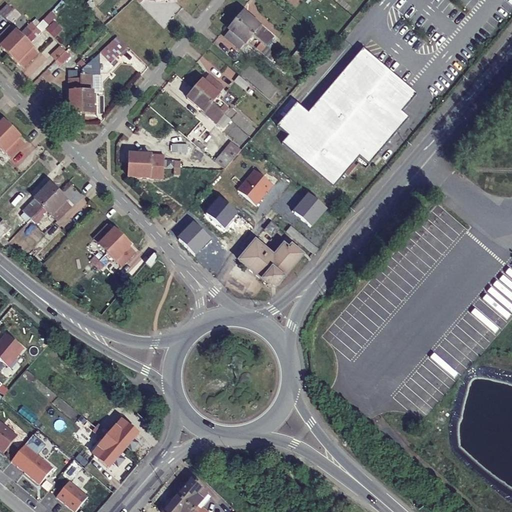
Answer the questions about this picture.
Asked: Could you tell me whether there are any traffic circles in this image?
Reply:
Yes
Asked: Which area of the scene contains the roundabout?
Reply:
bottom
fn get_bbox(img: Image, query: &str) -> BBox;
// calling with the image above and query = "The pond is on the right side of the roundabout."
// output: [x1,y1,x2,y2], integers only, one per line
[448,366,512,504]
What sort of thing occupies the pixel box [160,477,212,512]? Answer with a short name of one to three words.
house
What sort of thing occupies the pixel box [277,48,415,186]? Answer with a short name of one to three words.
building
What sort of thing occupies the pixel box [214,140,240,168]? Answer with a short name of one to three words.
shed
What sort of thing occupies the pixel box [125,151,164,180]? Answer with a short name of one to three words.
house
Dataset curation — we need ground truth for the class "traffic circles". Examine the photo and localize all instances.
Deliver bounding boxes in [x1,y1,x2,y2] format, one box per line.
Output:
[166,310,298,440]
